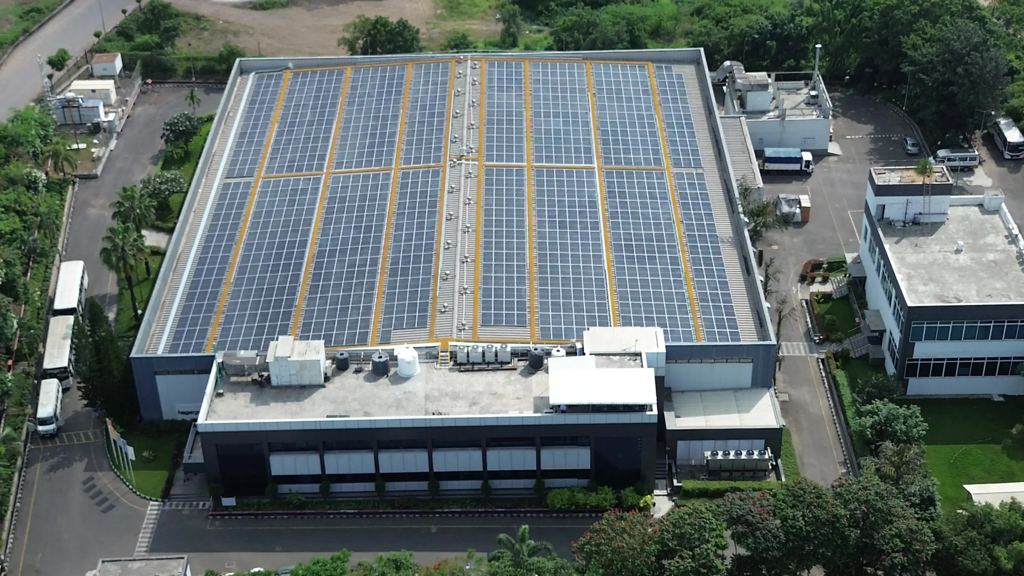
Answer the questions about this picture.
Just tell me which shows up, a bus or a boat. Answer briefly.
bus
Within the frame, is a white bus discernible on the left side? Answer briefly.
Yes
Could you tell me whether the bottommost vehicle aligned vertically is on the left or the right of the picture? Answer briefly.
left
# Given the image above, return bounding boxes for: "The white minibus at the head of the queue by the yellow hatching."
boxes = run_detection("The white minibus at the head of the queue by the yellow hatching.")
[35,378,67,443]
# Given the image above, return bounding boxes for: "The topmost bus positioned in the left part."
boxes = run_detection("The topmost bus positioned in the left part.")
[55,260,87,319]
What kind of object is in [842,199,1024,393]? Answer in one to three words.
building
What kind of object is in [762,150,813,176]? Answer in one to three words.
truck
